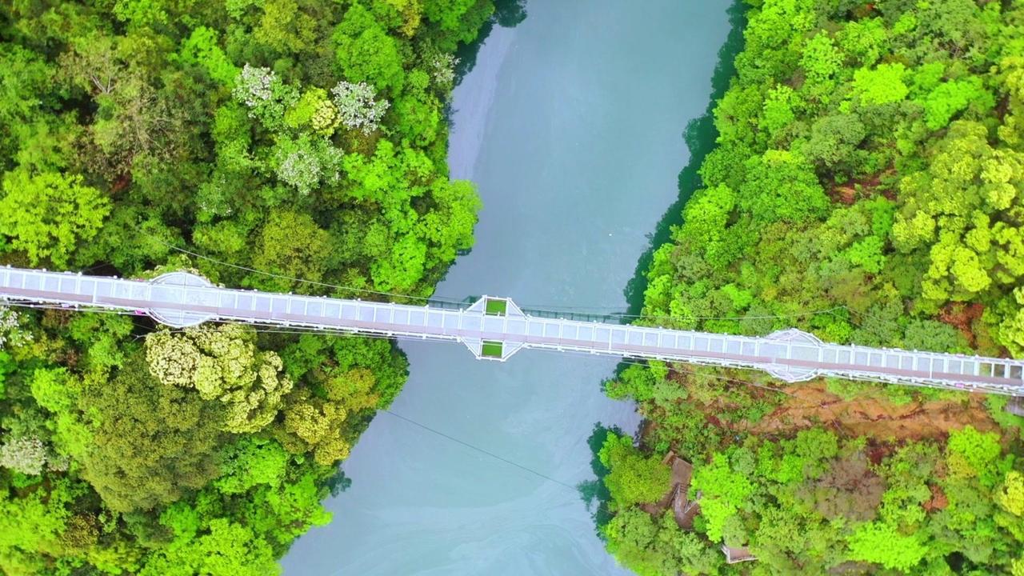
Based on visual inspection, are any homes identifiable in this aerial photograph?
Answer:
No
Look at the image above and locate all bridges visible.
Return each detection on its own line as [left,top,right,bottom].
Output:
[0,233,1024,398]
